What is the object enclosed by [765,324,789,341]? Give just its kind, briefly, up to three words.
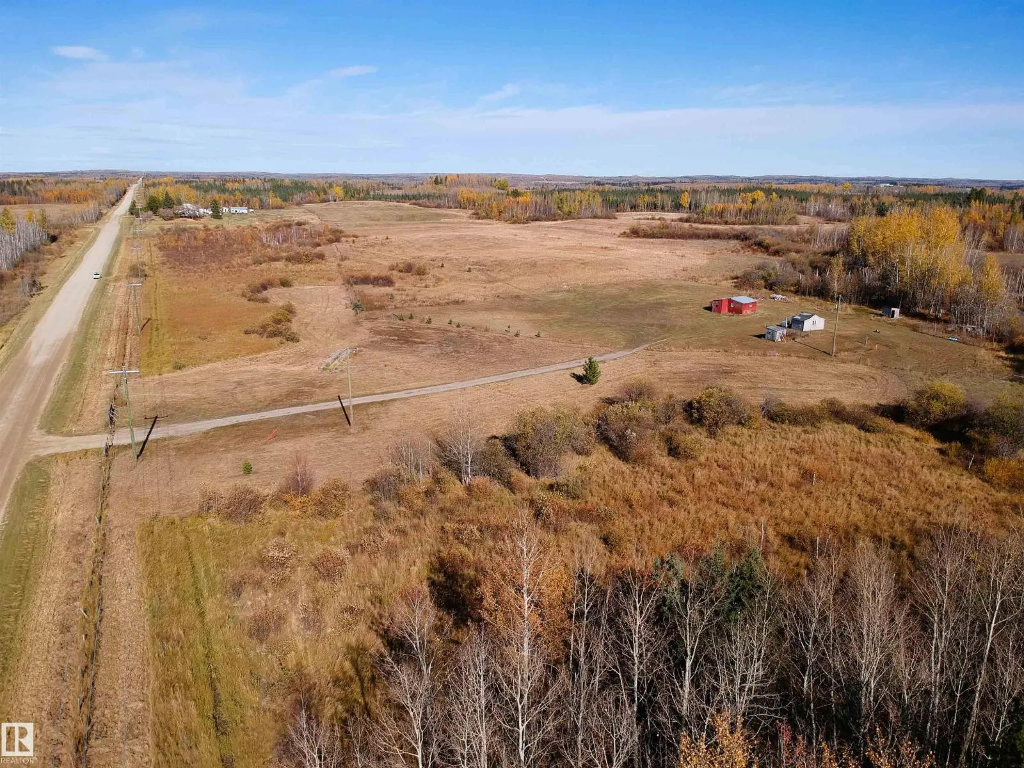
shed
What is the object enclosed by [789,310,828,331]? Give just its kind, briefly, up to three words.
building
